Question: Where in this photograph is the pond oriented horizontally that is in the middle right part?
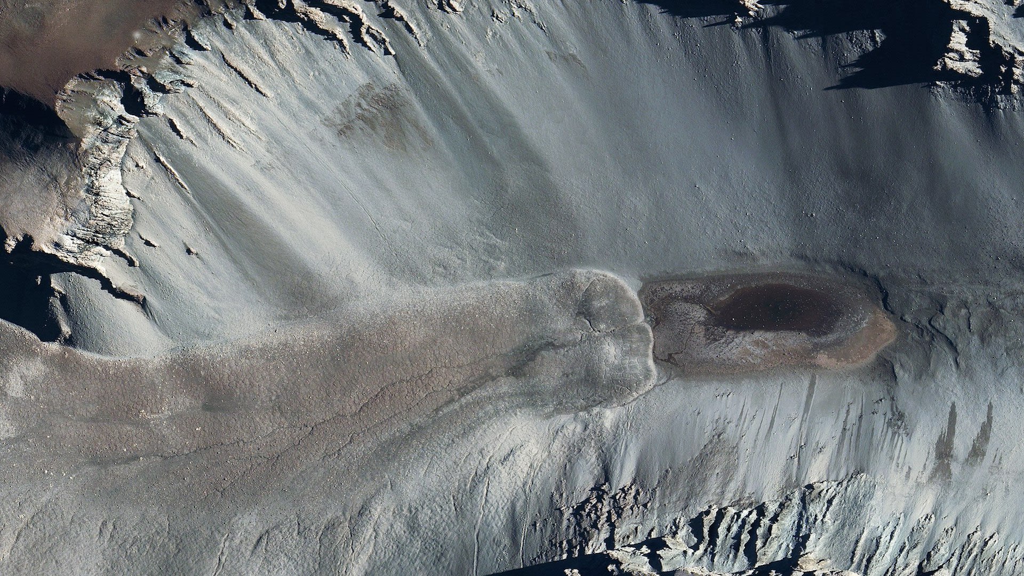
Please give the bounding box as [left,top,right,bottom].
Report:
[705,282,856,339]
